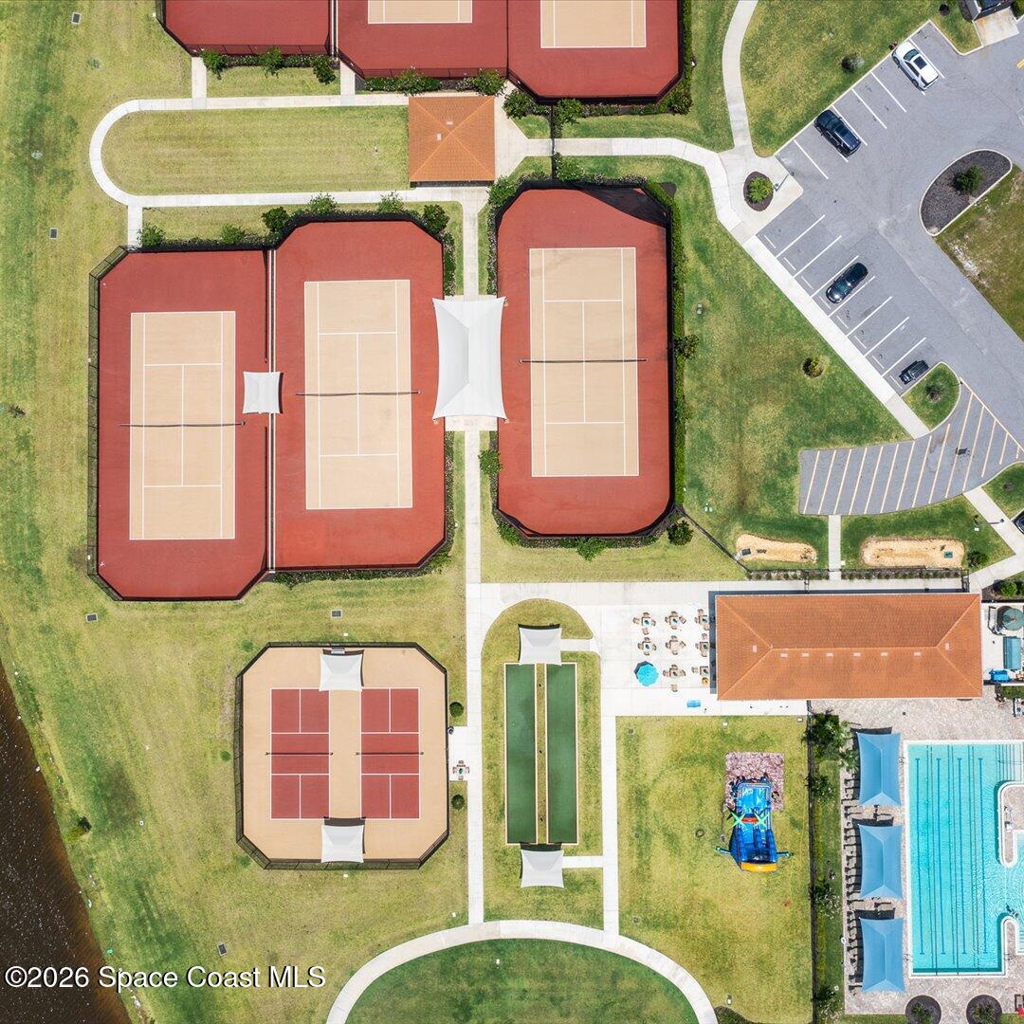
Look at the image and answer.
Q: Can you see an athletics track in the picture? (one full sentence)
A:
No, I find no athletics track anywhere in the image.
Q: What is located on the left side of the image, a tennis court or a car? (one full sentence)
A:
You can see a tennis court on the left side of the image.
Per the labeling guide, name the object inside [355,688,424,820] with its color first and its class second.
red sports court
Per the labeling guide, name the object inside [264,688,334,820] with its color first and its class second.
red sports court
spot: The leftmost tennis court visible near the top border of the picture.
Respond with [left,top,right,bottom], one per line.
[165,0,329,55]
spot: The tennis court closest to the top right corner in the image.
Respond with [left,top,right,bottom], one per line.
[509,0,681,94]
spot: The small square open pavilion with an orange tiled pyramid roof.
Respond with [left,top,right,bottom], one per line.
[407,95,496,187]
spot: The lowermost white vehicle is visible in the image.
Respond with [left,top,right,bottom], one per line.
[893,42,938,89]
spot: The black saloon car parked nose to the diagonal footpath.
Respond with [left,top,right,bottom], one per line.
[824,262,870,304]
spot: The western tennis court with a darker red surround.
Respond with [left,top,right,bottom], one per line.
[97,250,268,599]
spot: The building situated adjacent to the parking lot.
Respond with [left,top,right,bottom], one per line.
[713,593,984,701]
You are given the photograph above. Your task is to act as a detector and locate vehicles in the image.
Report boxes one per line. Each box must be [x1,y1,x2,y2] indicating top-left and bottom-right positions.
[815,110,860,157]
[1016,513,1024,532]
[824,262,870,304]
[893,42,938,89]
[901,356,934,382]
